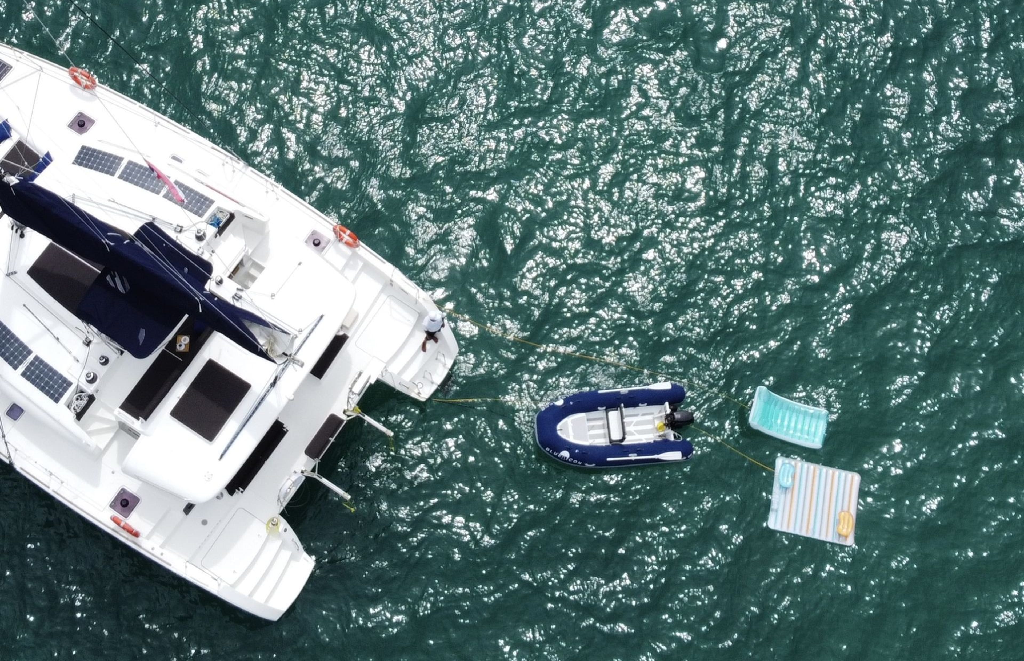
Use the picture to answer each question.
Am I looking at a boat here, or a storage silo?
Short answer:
boat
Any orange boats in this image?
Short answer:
No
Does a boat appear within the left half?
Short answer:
Yes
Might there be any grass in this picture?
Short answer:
No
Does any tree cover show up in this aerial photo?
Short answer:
No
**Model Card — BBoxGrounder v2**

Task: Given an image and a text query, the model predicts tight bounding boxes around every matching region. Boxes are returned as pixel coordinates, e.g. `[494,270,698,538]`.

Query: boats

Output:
[535,385,694,468]
[0,0,459,622]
